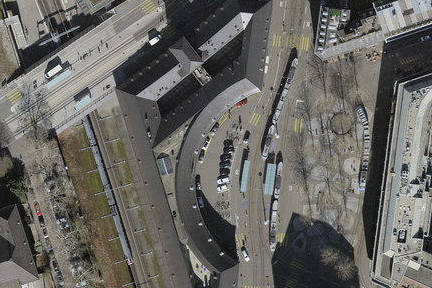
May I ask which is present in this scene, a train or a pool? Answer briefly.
train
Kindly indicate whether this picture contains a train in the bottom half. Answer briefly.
Yes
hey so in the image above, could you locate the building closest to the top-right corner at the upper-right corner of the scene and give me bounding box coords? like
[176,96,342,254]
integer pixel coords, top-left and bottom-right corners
[371,0,432,44]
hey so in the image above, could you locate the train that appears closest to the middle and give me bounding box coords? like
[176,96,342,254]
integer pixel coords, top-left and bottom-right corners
[262,124,276,160]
